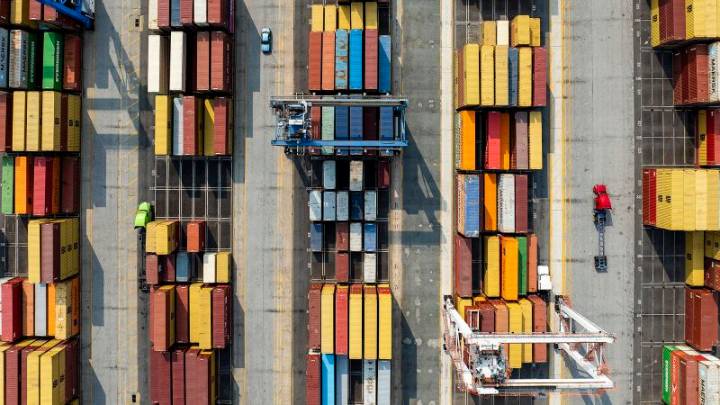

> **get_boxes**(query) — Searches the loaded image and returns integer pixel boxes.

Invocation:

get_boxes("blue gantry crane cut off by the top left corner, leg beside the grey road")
[41,0,94,31]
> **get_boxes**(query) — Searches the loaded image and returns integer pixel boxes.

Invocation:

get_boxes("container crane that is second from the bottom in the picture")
[268,86,411,159]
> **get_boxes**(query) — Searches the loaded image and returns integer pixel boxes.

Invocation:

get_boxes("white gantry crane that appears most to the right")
[438,290,620,398]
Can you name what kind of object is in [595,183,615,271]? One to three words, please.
vehicle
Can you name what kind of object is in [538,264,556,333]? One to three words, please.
vehicle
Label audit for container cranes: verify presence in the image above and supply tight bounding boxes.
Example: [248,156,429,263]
[41,0,94,31]
[438,290,620,398]
[268,86,411,159]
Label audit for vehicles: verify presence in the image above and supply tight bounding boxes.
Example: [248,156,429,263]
[260,27,271,53]
[134,201,152,289]
[595,183,615,271]
[538,264,556,333]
